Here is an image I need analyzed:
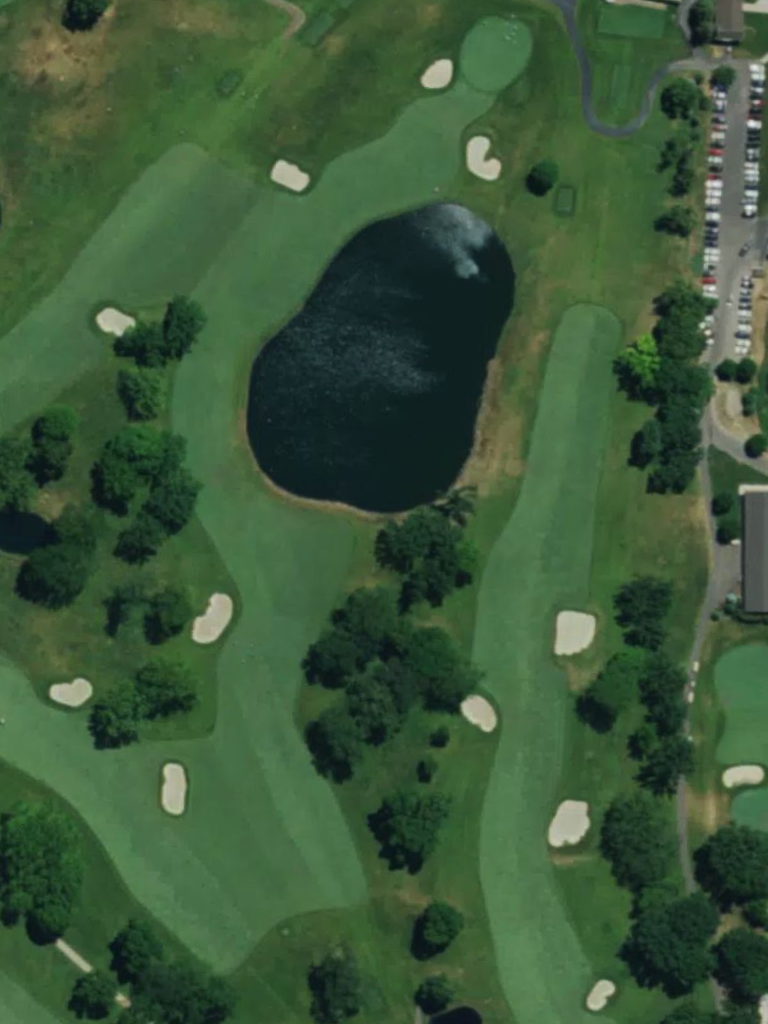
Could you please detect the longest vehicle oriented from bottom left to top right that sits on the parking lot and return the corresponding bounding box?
[737,243,752,259]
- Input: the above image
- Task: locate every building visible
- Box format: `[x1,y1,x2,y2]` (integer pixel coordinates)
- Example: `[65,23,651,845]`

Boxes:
[744,492,768,613]
[716,0,743,41]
